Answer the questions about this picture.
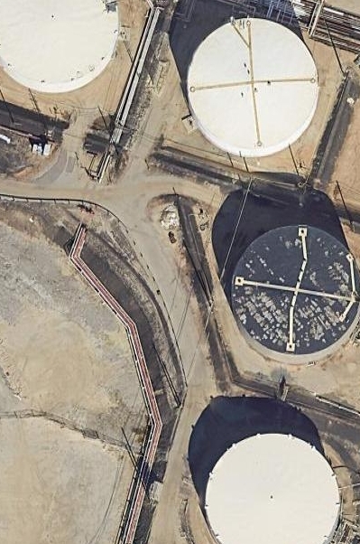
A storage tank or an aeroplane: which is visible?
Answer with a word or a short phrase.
storage tank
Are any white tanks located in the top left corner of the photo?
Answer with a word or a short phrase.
Yes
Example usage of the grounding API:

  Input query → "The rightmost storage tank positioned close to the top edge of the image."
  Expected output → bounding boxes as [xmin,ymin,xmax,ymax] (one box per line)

[182,17,320,159]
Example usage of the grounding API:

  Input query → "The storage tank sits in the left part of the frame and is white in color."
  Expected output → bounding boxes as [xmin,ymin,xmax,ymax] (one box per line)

[0,0,122,101]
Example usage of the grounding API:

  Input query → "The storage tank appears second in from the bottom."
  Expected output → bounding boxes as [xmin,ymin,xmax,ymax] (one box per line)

[226,225,360,366]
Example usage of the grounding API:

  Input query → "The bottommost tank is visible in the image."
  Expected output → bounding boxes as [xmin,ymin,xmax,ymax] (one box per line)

[199,432,343,544]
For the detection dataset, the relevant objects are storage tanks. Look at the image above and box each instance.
[199,432,343,544]
[226,225,360,366]
[182,17,320,159]
[0,0,122,101]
